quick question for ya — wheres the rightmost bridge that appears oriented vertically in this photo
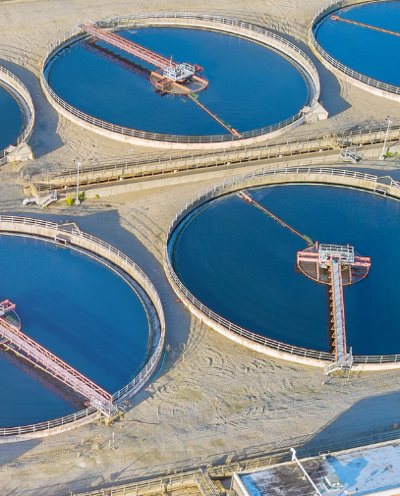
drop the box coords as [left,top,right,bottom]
[318,253,359,376]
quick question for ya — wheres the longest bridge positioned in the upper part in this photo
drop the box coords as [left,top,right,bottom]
[64,14,176,68]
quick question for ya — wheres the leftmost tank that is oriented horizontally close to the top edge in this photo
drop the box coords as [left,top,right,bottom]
[40,9,327,149]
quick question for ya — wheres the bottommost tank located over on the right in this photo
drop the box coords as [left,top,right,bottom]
[164,166,400,376]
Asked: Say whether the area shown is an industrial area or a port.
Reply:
industrial area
